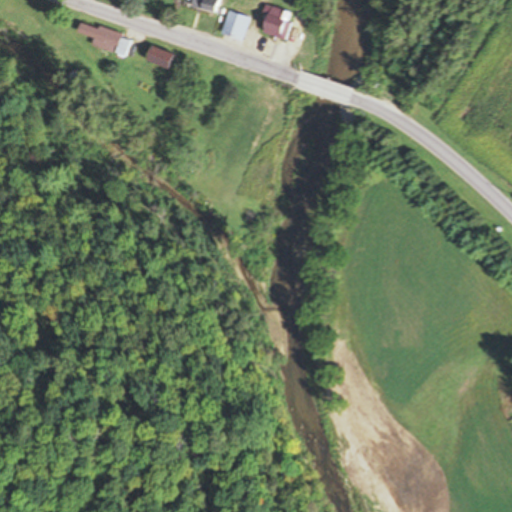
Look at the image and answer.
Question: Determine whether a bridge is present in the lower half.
No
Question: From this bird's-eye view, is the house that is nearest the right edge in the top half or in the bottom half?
top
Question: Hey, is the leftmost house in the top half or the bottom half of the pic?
top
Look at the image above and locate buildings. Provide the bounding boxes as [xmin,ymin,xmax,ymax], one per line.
[78,20,122,55]
[116,36,136,60]
[222,13,252,45]
[258,4,294,41]
[146,44,176,68]
[191,0,221,16]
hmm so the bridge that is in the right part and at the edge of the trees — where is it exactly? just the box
[294,70,358,107]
